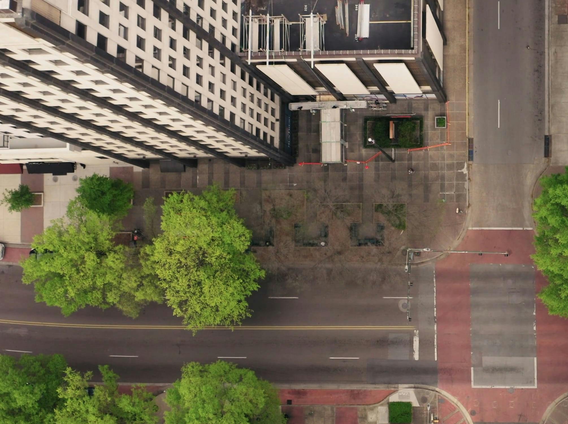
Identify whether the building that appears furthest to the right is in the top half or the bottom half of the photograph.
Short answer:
top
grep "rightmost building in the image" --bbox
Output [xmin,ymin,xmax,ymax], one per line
[236,0,441,96]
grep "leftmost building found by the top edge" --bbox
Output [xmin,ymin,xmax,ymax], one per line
[0,0,296,167]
